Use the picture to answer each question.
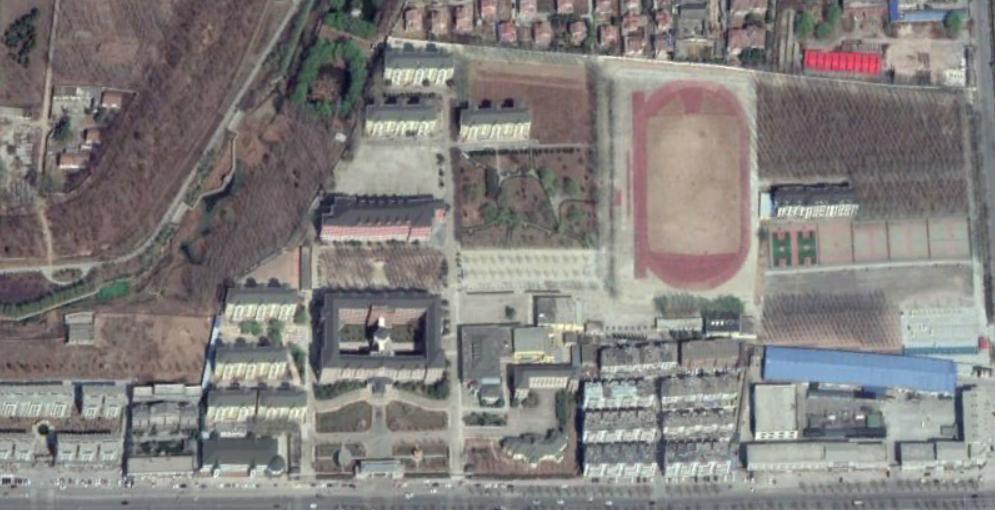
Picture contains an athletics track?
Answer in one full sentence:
Yes, an athletics track is visible in the scene.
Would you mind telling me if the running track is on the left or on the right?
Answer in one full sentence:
It is on the right.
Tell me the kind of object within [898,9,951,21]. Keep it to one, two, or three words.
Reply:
shed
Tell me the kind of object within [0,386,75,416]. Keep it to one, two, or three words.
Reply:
building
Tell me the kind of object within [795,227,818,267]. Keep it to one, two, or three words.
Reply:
basketball court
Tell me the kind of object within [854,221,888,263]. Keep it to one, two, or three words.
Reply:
sports court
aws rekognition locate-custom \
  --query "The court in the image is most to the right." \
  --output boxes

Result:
[930,219,970,259]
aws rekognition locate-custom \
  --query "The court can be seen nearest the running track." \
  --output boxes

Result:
[770,228,794,268]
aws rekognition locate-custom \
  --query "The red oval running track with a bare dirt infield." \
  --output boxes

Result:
[634,79,750,289]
